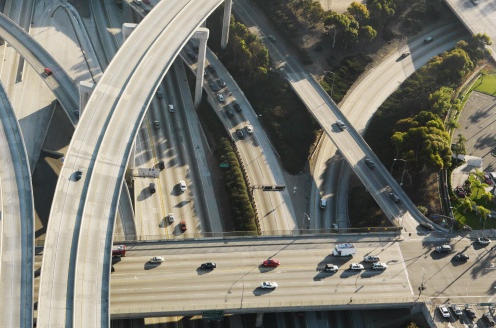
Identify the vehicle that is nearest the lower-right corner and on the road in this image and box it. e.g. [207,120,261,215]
[481,314,496,327]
